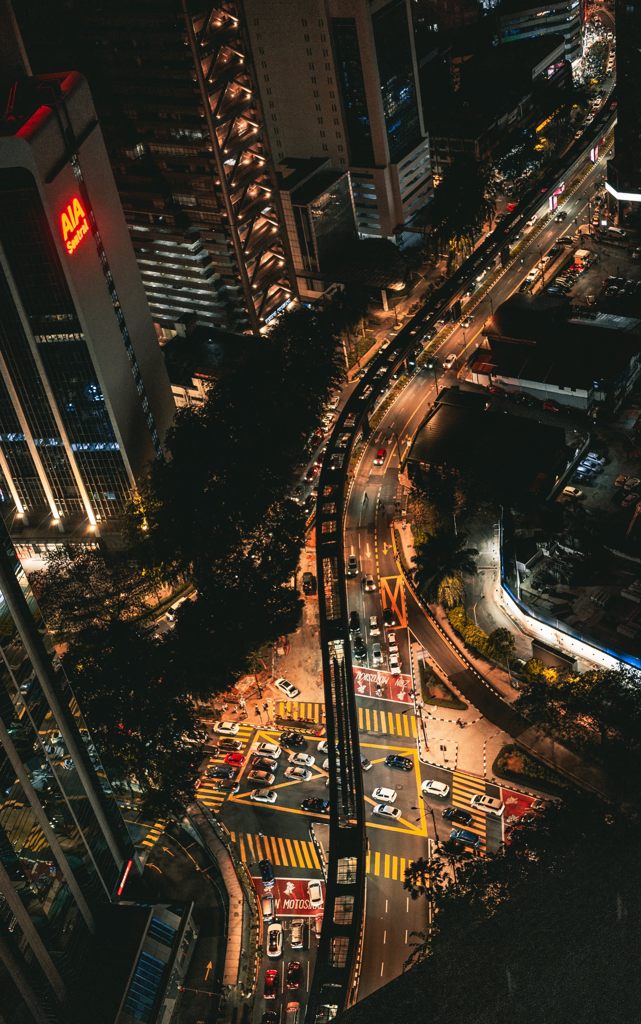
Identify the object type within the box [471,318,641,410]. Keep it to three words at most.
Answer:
shed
